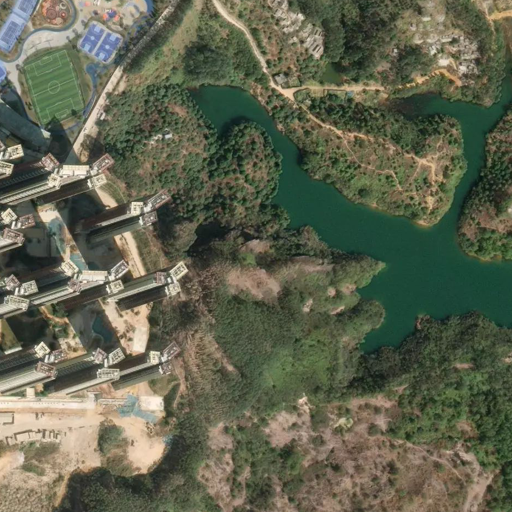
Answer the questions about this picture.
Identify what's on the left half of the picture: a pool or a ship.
pool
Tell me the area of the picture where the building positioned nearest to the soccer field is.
top left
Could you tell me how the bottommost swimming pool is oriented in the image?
on a diagonal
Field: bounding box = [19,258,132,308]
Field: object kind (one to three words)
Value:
building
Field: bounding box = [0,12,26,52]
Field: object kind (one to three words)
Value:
tennis court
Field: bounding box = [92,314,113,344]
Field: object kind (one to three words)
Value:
swimming pool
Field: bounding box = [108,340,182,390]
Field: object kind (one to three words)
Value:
building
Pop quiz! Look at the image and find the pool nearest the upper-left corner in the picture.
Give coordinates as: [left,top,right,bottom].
[48,218,64,254]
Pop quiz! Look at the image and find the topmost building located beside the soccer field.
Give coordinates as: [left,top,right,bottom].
[0,100,50,158]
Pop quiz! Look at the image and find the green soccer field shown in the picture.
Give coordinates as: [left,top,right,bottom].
[22,46,86,128]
